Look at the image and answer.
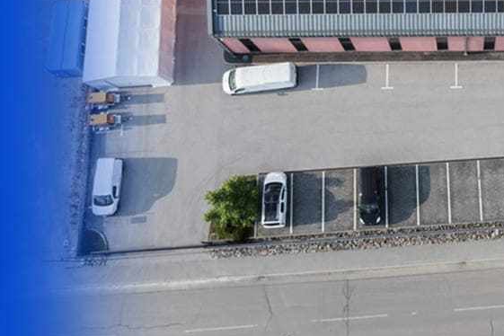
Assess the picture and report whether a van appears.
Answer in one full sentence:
Yes, a van can be made out from above.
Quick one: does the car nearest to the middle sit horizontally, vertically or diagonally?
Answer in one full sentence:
The car nearest to the middle has been laid out vertically relative to the frame.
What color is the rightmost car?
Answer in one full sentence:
In this view, the rightmost car is black.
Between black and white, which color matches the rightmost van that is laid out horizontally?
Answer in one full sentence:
In this view, the rightmost van that is laid out horizontally is white.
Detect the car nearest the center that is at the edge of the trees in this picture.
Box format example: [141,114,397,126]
[261,171,288,230]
